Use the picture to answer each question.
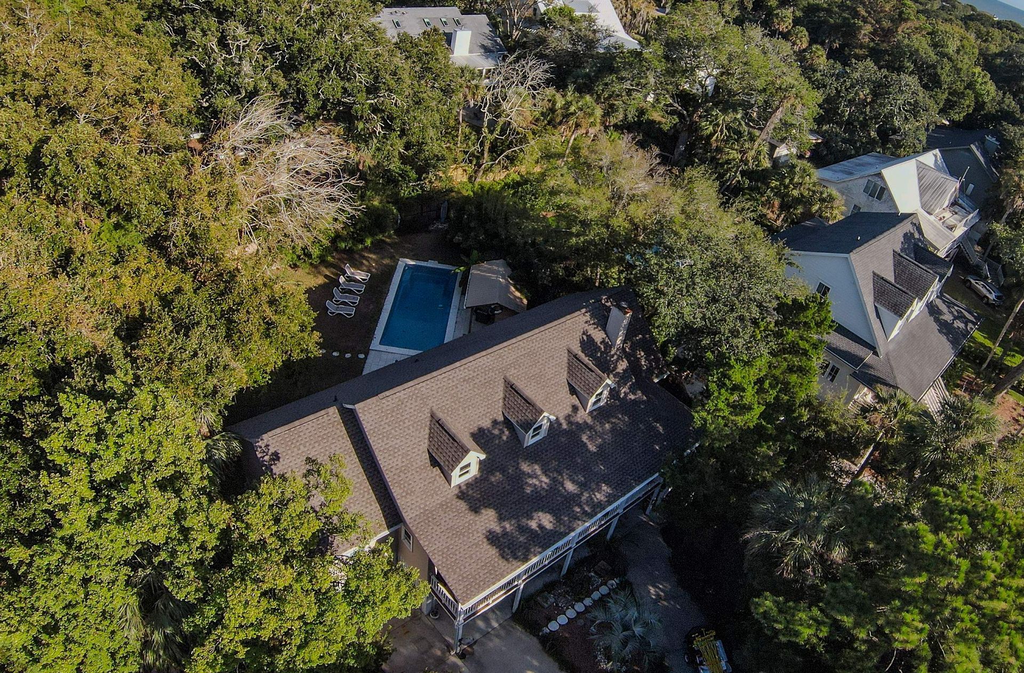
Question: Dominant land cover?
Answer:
trees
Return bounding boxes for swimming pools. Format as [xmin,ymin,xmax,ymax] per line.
[370,258,464,354]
